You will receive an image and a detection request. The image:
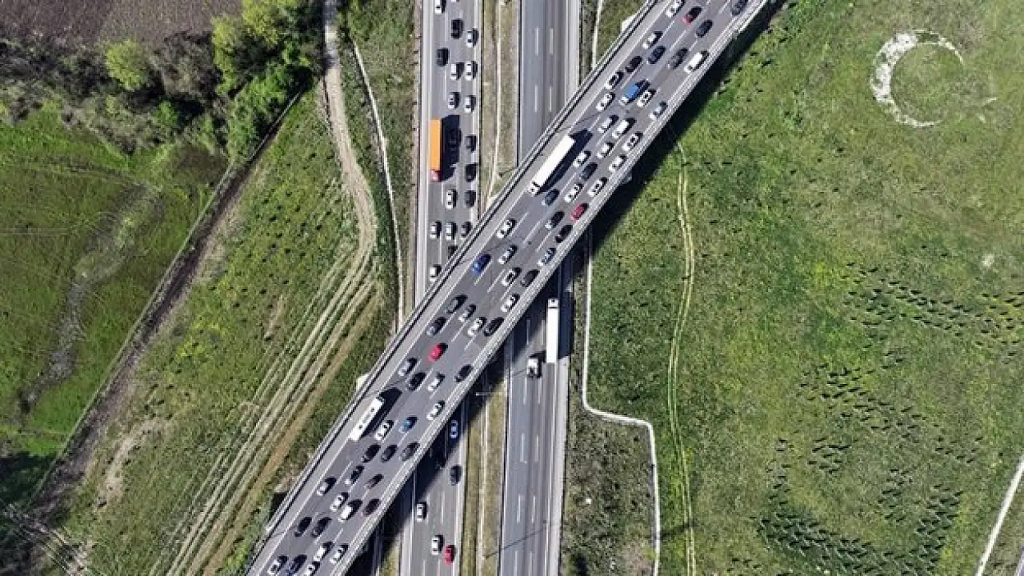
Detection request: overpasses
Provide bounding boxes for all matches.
[236,0,764,576]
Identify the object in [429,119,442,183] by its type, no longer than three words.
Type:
vehicle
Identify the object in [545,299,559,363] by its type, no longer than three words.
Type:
vehicle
